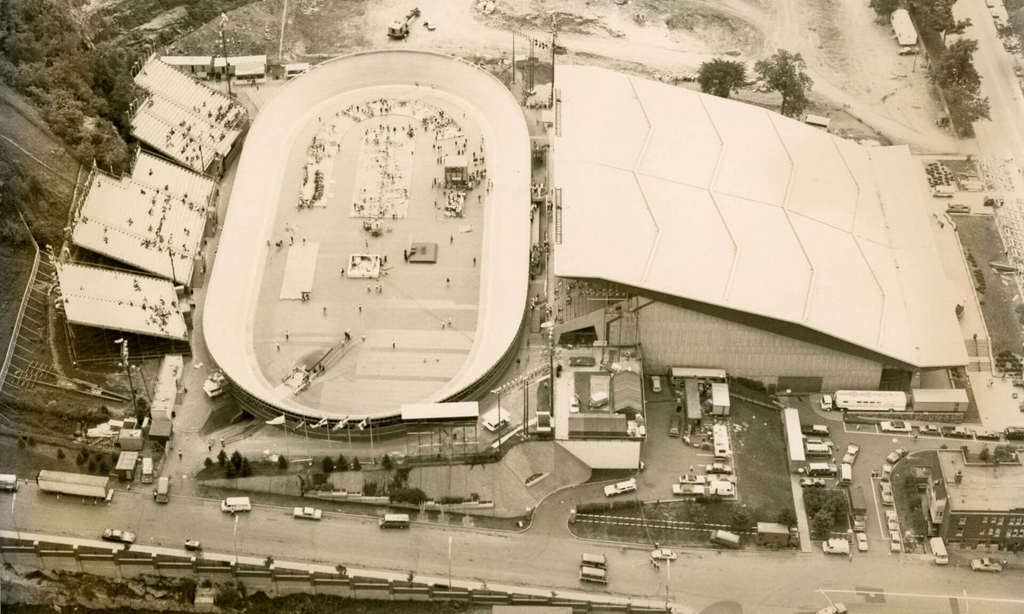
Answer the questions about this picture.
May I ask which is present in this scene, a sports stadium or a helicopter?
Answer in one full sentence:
It is a sports stadium that can be seen here.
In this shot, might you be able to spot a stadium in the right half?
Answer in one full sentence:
Yes, the scene does show a stadium in the right half.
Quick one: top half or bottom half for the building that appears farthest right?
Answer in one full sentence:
The bottom half of the photo is where the building that appears farthest right is.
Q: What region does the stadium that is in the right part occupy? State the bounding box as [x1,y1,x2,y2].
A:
[546,61,968,391]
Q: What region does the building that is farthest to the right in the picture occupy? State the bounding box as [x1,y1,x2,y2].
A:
[928,449,1024,557]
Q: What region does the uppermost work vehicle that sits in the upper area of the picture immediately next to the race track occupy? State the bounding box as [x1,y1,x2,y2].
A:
[387,9,436,42]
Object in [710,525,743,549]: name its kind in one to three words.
vehicle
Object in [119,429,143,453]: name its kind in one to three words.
building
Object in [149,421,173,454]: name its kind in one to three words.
shed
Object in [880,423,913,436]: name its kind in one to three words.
vehicle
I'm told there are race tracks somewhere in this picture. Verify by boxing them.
[208,45,533,444]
